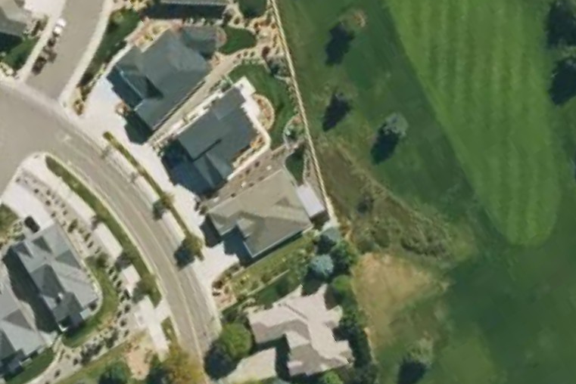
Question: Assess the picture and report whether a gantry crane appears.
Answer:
No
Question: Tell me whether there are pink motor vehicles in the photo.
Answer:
No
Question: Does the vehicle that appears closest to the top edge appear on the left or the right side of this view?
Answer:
left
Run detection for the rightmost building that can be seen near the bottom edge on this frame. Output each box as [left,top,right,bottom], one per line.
[244,278,352,379]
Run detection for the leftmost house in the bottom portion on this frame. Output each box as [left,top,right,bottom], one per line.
[0,281,47,370]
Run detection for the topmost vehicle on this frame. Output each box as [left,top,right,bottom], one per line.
[50,14,70,39]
